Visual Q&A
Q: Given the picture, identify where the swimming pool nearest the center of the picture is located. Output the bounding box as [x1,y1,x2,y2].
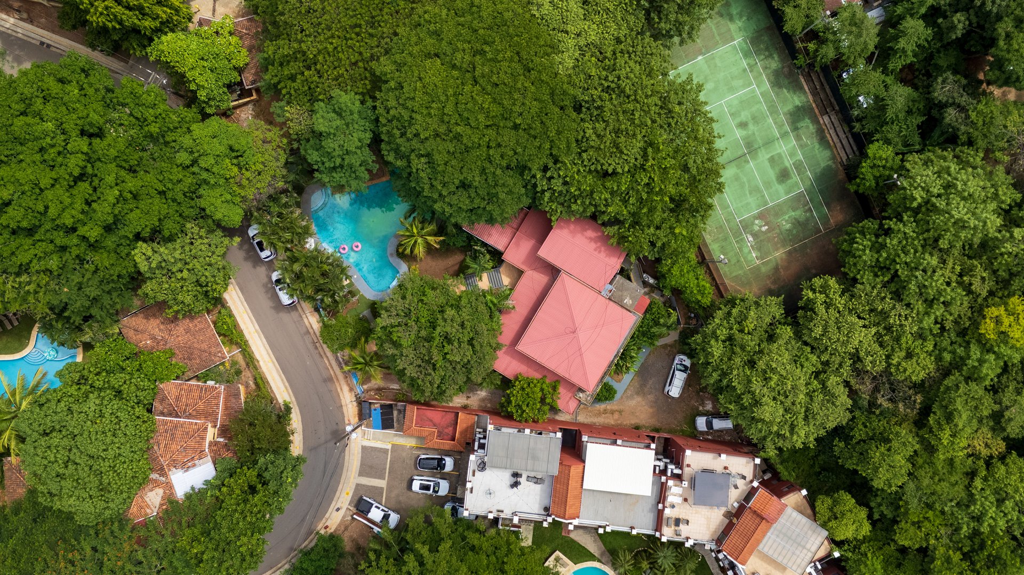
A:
[300,173,417,301]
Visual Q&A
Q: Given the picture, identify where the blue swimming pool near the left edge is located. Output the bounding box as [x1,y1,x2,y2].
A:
[0,323,84,415]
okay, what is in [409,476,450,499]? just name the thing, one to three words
car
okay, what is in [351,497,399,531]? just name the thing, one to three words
vehicle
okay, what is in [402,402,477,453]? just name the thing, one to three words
building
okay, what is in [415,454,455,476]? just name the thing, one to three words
car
